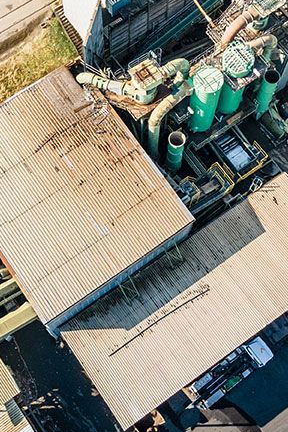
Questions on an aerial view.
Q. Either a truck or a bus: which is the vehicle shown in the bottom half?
truck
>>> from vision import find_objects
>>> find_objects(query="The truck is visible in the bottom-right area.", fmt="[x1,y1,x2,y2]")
[188,333,278,414]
